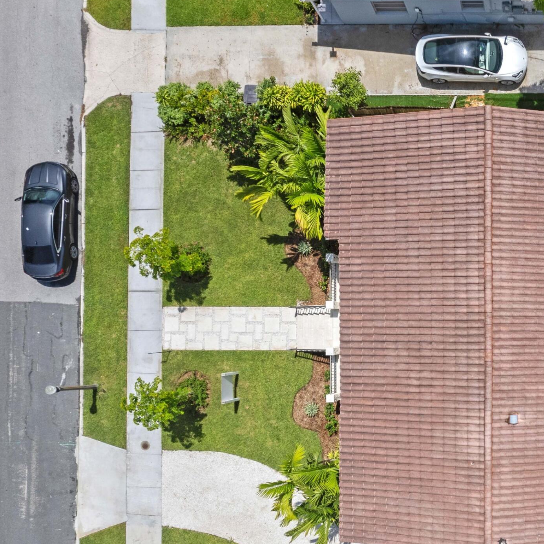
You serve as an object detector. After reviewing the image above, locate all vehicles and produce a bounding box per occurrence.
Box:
[17,160,81,281]
[411,28,531,84]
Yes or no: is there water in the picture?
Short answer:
No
